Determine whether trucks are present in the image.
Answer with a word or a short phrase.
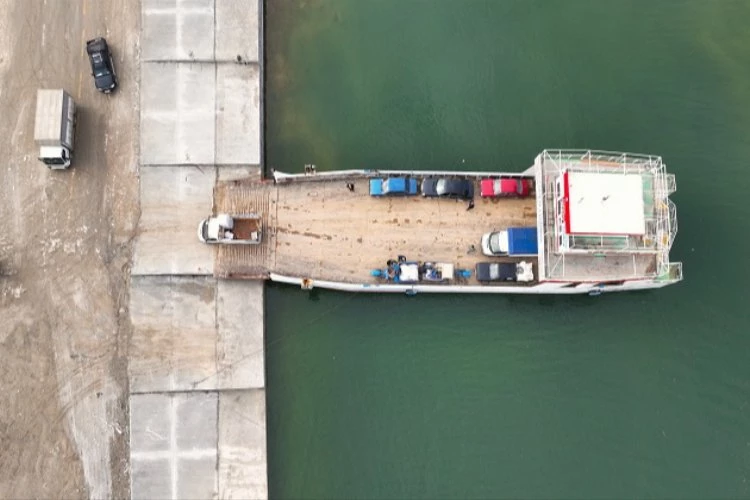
Yes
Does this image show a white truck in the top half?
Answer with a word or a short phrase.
Yes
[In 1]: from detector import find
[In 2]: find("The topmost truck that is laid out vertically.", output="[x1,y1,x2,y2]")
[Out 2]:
[85,36,120,95]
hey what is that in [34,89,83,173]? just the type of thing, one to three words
truck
